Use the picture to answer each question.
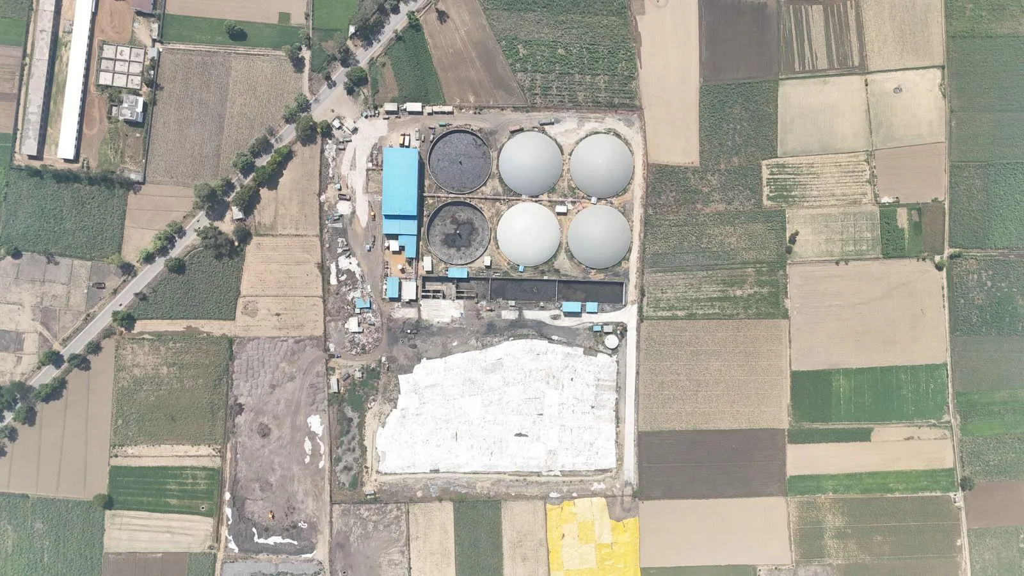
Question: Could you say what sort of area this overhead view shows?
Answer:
industrial area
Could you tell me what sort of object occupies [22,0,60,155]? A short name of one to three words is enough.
shed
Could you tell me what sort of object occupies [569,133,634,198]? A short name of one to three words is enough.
storage tank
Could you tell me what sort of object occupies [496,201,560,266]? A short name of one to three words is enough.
storage tank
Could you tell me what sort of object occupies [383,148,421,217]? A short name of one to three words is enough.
building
